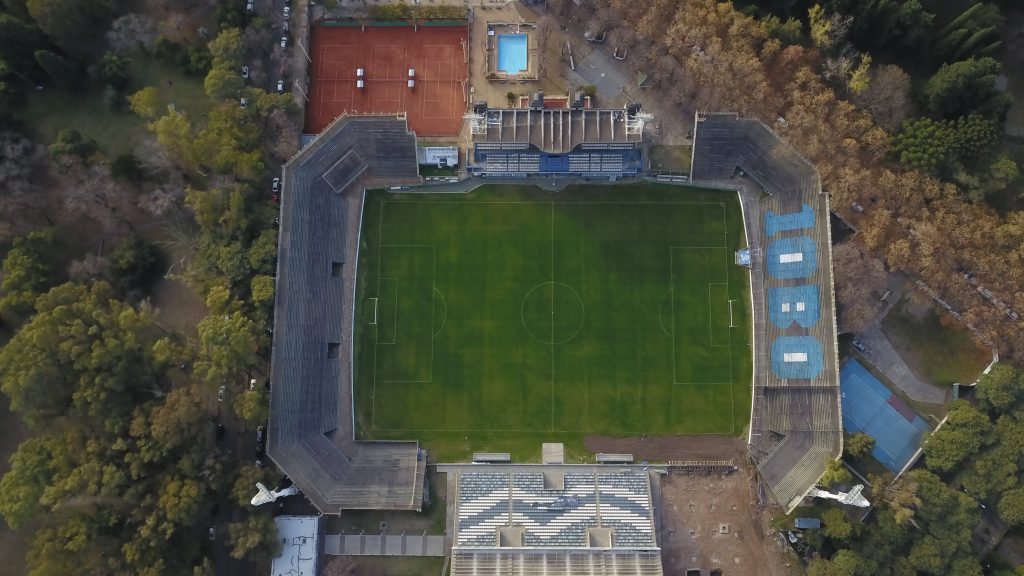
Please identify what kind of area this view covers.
sports ground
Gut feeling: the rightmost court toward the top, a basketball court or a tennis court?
tennis court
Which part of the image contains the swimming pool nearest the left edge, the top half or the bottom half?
top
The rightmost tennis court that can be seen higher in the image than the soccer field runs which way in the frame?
from top to bottom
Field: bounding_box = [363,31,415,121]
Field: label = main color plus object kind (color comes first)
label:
red tennis court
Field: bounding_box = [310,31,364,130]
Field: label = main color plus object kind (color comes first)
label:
red tennis court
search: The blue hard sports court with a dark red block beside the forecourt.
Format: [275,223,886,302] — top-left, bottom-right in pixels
[839,358,928,468]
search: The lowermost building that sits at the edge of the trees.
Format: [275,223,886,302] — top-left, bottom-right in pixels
[272,513,323,576]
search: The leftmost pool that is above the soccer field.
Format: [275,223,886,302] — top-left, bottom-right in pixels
[491,29,533,76]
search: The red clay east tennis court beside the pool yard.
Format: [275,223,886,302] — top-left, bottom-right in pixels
[414,31,465,130]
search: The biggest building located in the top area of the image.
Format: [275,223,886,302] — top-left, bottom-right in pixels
[419,147,458,170]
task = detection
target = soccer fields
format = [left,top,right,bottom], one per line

[352,186,750,465]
